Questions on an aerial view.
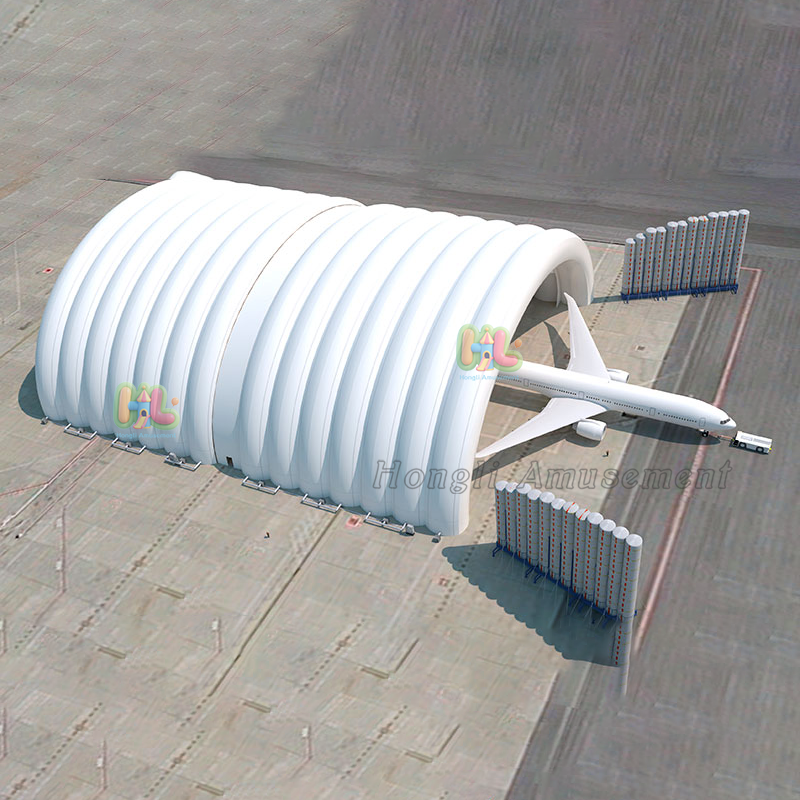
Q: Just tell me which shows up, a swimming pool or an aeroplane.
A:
aeroplane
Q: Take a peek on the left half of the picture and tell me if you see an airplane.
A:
No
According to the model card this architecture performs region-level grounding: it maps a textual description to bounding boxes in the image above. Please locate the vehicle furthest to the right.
[734,432,773,454]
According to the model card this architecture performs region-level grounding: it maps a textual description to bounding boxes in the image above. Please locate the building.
[36,171,592,535]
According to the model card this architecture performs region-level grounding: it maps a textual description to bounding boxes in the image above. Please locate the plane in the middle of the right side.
[480,294,731,455]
